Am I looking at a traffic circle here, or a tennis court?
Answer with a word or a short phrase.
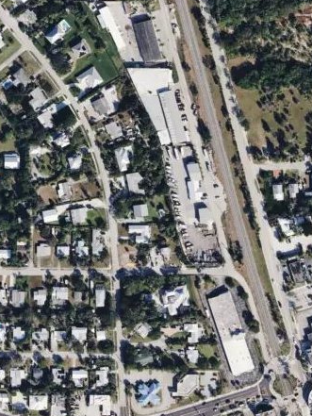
traffic circle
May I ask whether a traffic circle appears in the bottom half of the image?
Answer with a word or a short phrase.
Yes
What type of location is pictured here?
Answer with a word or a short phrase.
residential area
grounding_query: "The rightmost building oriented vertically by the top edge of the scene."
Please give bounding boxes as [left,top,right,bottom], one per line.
[133,19,160,63]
